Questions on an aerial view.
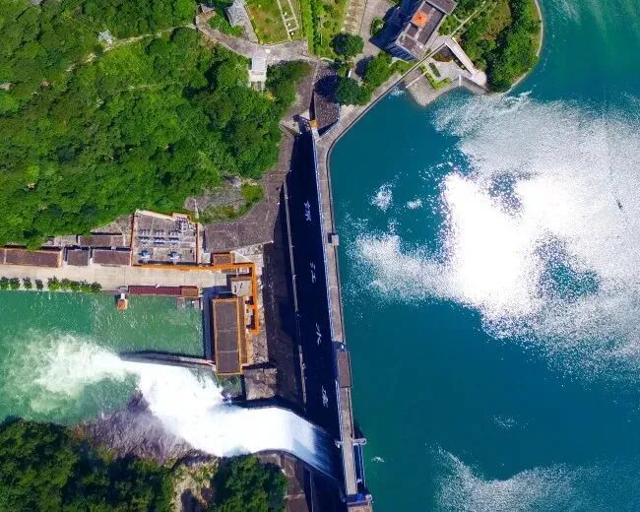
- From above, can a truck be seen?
No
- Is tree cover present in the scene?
Yes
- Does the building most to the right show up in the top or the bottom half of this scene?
top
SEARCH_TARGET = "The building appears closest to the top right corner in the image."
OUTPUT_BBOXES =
[388,0,457,62]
